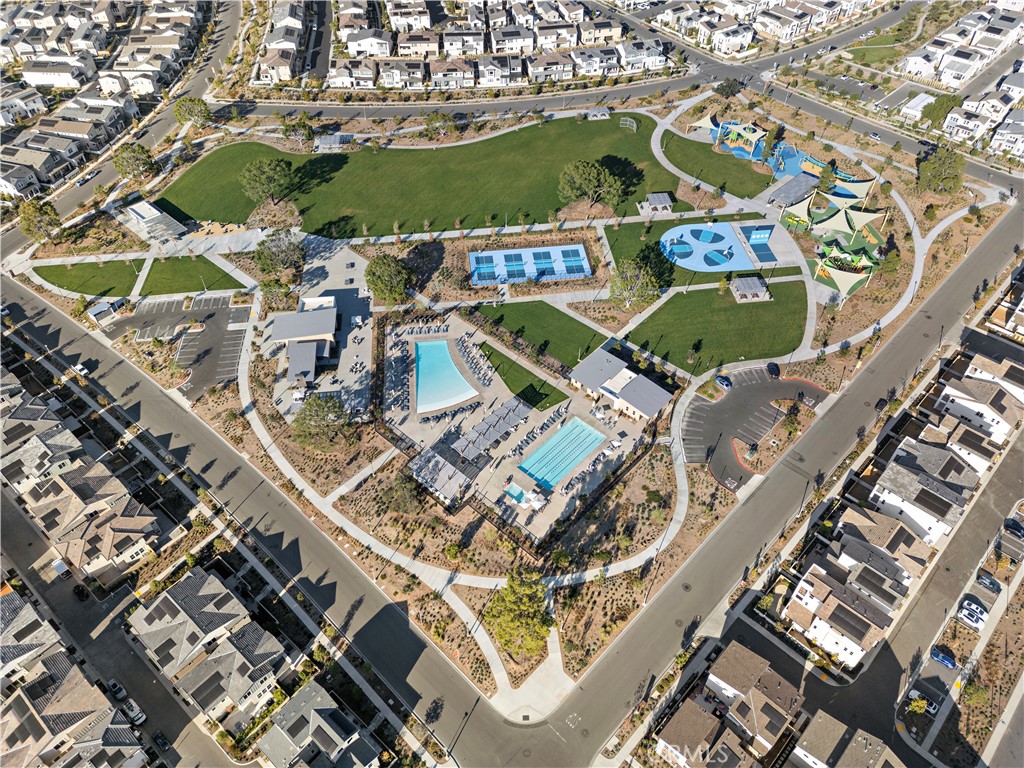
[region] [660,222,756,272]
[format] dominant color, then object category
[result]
blue basketball court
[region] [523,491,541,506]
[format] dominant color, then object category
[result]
white umbrella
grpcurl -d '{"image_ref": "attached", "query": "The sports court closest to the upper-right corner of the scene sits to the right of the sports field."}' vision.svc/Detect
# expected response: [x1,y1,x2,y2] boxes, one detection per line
[740,225,777,262]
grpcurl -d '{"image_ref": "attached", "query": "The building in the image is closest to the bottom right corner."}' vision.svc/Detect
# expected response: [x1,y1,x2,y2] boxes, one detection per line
[832,724,898,768]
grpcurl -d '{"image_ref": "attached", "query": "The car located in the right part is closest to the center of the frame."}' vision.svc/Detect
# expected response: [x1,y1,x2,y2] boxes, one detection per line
[717,375,733,388]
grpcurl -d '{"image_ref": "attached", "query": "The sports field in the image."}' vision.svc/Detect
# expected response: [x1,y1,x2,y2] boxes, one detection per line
[157,112,695,238]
